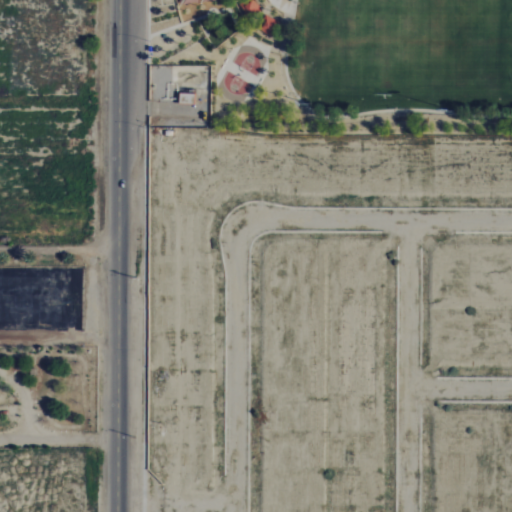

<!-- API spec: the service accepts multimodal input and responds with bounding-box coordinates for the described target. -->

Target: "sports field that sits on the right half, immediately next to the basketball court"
[287,0,512,116]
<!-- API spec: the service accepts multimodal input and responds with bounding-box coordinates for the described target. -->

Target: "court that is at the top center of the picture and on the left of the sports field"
[216,37,272,104]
